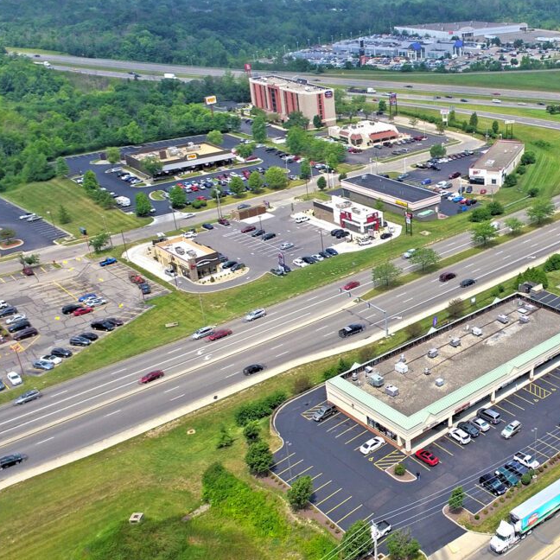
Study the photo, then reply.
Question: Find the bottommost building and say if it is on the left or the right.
right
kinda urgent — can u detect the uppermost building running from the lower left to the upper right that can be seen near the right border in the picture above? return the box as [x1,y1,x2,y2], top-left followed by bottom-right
[470,141,535,186]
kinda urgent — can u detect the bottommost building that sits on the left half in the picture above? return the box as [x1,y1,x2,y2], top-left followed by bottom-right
[152,234,223,282]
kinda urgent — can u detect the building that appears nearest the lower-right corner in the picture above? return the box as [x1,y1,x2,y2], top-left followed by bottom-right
[329,287,560,457]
